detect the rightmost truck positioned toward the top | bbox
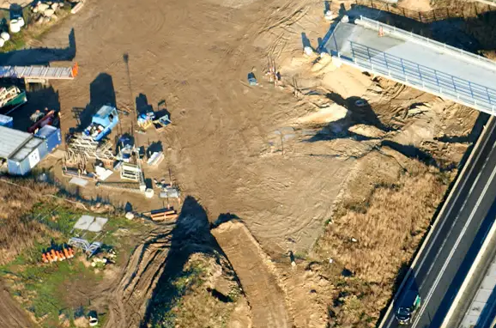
[79,100,122,143]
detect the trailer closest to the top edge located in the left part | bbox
[0,67,75,91]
